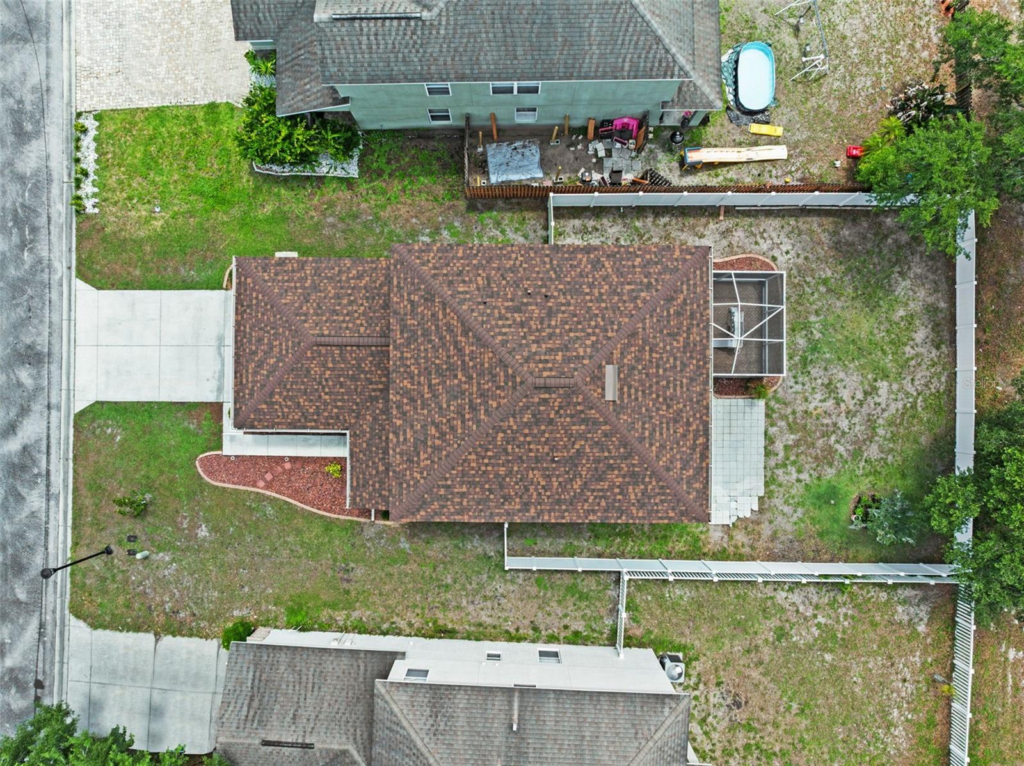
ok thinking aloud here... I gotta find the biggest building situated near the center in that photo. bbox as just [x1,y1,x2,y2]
[231,242,713,525]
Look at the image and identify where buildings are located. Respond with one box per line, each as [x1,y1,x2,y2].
[234,0,724,129]
[211,631,712,766]
[231,242,713,525]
